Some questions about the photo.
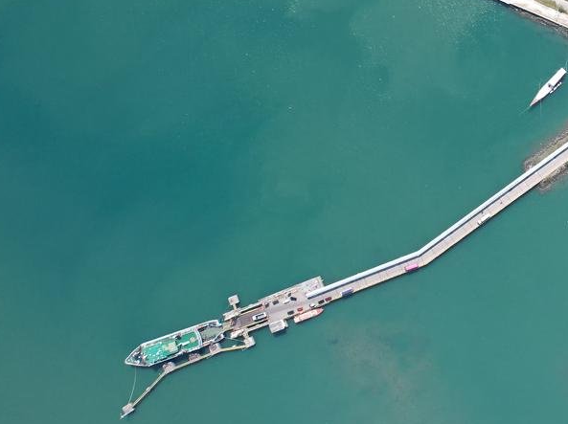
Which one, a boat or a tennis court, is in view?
boat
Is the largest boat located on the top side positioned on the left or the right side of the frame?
right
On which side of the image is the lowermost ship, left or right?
left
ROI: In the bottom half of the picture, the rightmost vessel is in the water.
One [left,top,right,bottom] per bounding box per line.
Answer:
[294,308,324,323]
